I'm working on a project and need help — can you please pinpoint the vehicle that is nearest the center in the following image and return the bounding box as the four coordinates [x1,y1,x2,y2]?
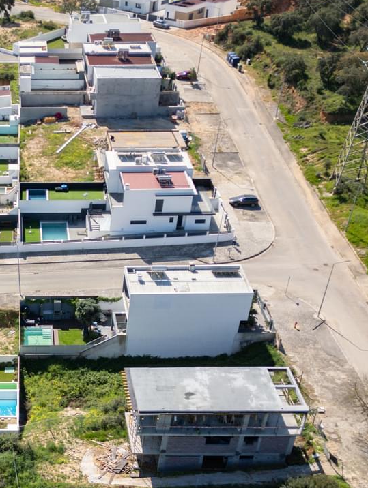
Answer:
[229,194,258,207]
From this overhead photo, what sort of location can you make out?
residential area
